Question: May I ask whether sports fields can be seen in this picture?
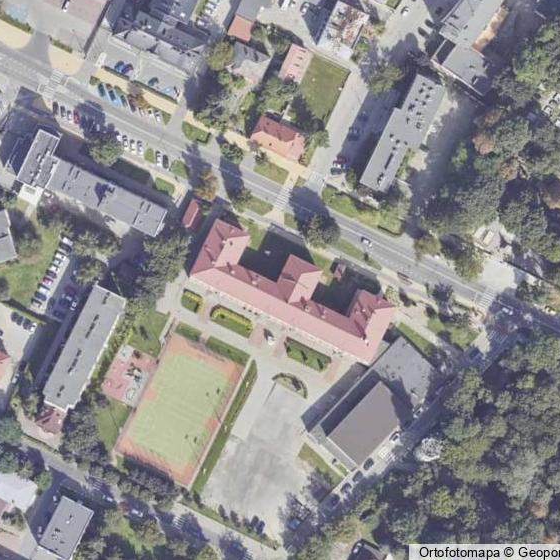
Yes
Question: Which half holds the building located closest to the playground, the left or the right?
left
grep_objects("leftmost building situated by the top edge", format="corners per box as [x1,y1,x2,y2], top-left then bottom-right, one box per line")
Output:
[112,0,210,82]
